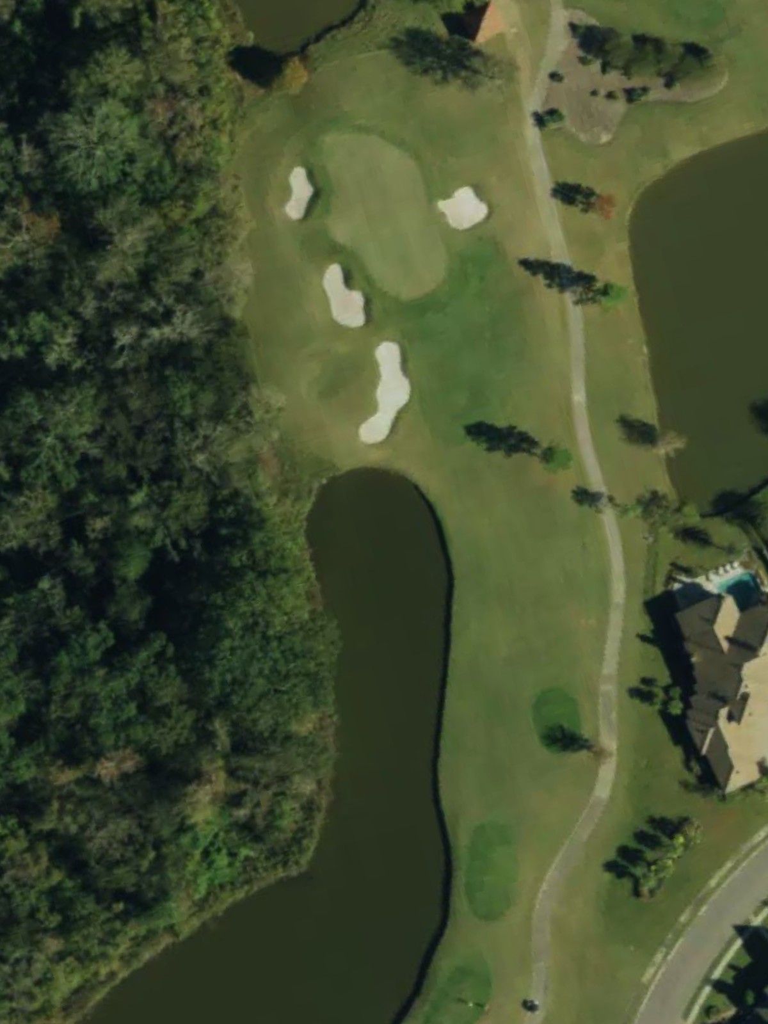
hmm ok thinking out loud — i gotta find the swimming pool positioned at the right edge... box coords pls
[716,571,762,608]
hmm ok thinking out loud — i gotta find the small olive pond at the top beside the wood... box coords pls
[234,0,364,56]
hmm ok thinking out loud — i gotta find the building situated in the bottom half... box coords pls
[676,592,768,794]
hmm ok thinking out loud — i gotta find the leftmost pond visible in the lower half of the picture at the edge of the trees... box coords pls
[82,468,450,1024]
